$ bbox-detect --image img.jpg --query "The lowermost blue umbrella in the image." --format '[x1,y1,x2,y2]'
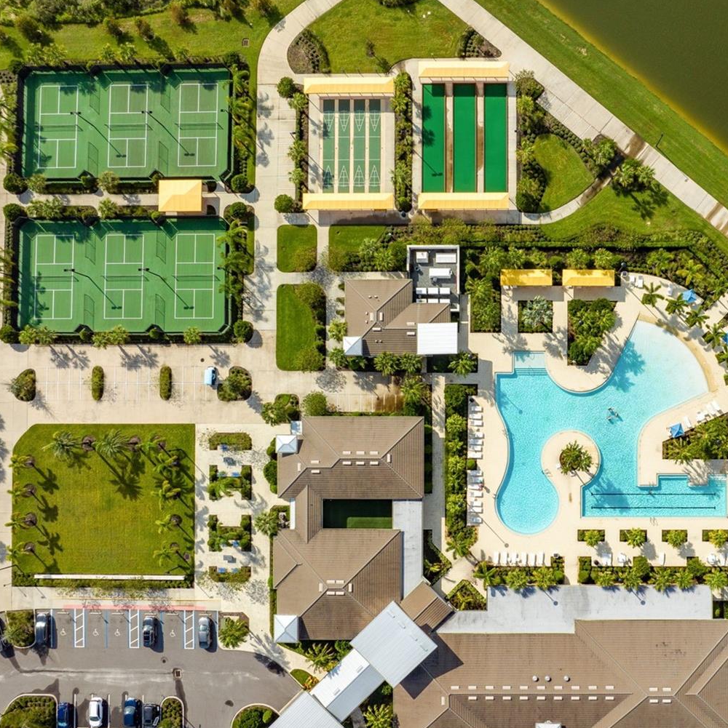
[670,423,684,437]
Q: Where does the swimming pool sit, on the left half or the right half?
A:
right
